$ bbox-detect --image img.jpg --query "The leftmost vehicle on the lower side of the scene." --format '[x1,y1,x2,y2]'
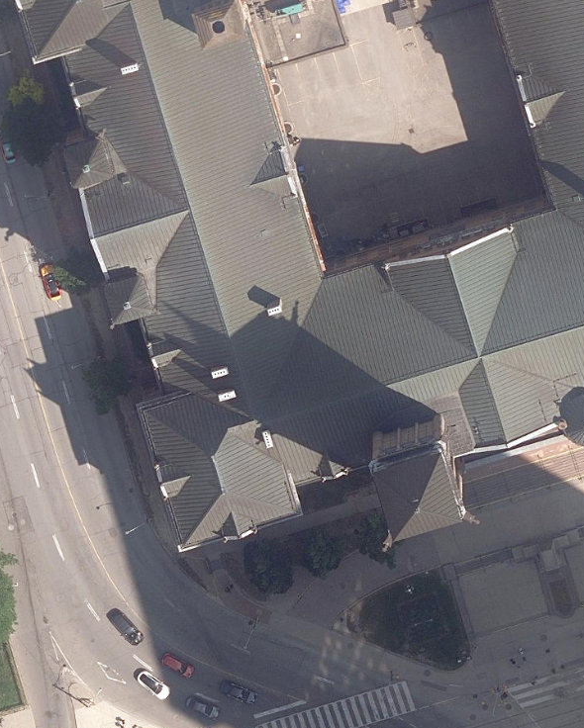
[107,609,142,646]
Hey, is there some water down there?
No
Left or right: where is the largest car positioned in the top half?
left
